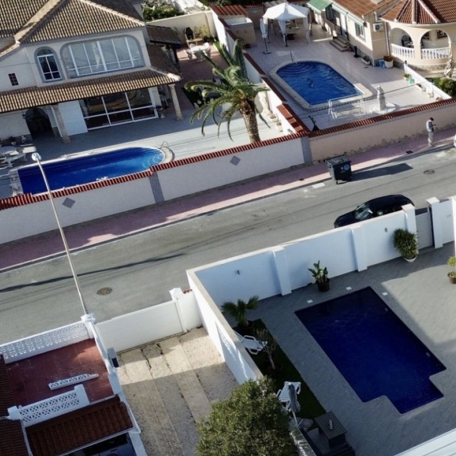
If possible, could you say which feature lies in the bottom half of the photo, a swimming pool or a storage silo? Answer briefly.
swimming pool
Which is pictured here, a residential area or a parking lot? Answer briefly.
residential area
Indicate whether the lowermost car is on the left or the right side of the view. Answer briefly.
right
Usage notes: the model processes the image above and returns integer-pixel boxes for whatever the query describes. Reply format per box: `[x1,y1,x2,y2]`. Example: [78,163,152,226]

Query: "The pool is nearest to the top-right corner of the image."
[269,58,369,109]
